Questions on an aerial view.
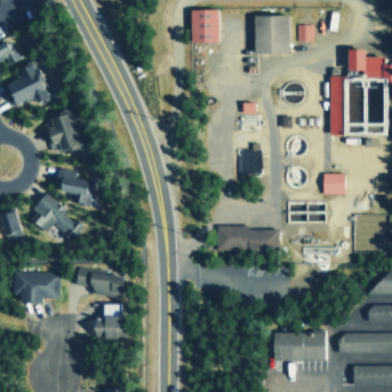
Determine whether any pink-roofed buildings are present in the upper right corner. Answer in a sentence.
Yes, looking in the upper right corner, one can make out a pink-roofed building.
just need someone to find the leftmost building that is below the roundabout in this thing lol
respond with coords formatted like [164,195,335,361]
[0,208,26,240]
